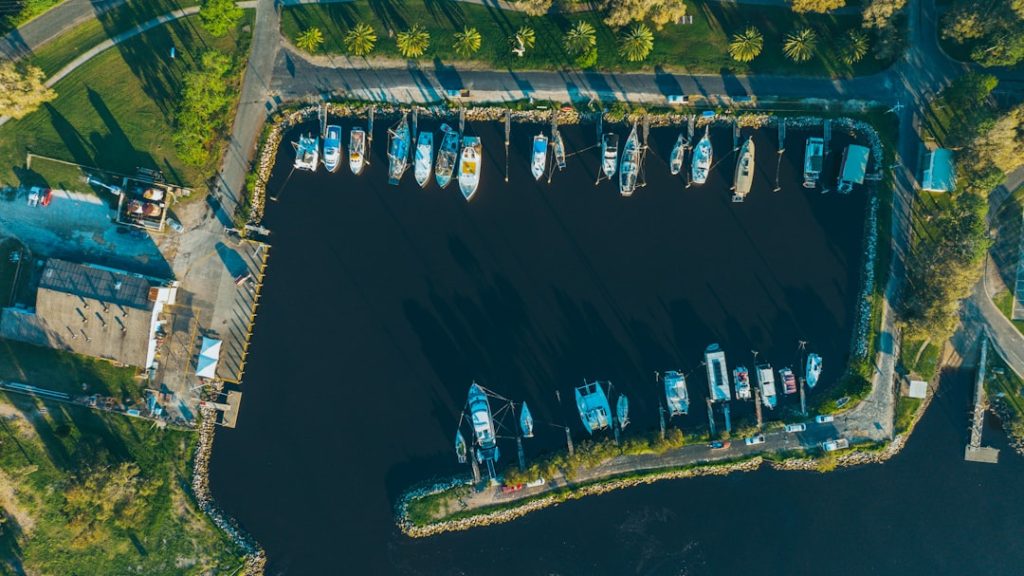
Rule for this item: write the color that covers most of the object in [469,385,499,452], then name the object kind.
blue boat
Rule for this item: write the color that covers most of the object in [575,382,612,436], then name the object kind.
blue boat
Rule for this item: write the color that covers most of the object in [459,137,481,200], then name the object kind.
white boat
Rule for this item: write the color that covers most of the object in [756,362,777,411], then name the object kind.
white boat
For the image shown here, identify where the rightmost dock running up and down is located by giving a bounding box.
[967,334,989,448]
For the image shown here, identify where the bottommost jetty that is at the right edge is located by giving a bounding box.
[963,446,1004,464]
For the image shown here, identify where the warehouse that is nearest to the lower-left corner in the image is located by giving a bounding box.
[0,258,187,369]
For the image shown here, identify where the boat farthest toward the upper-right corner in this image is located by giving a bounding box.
[841,144,872,186]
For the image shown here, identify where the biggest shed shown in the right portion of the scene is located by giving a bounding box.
[916,149,962,193]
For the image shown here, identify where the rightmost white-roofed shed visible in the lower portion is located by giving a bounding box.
[903,380,926,399]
